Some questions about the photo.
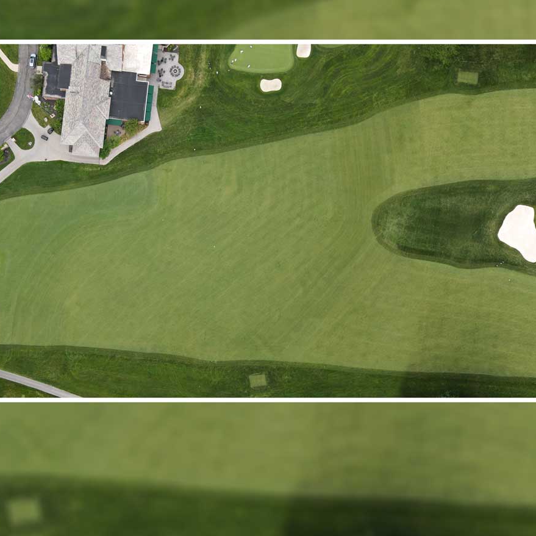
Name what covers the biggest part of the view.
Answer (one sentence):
What you mostly see from above here is grass.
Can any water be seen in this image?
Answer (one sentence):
No, the scene doesn't show any water.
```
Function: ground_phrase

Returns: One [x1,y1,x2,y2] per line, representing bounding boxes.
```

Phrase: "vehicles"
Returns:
[39,135,48,140]
[44,127,53,135]
[28,53,35,69]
